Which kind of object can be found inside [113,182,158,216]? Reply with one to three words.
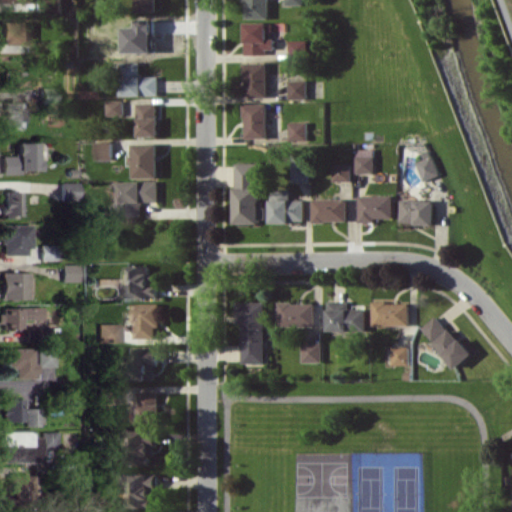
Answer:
house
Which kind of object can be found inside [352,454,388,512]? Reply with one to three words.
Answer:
tennis court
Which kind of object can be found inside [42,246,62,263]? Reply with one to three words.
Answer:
building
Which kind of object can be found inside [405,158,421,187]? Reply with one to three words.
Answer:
swimming pool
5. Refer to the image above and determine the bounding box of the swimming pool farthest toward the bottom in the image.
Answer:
[420,352,442,370]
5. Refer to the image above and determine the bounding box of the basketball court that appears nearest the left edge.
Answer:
[296,454,351,512]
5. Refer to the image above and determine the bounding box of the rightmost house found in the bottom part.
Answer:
[424,320,470,370]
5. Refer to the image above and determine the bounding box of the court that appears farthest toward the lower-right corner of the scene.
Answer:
[388,454,424,512]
